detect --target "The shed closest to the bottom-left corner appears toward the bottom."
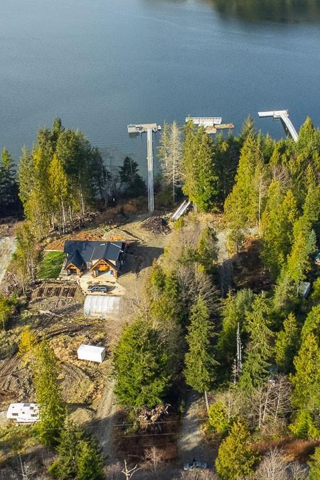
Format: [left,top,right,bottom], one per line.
[77,342,108,363]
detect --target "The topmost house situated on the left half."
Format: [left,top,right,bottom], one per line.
[62,235,129,281]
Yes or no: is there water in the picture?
Yes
